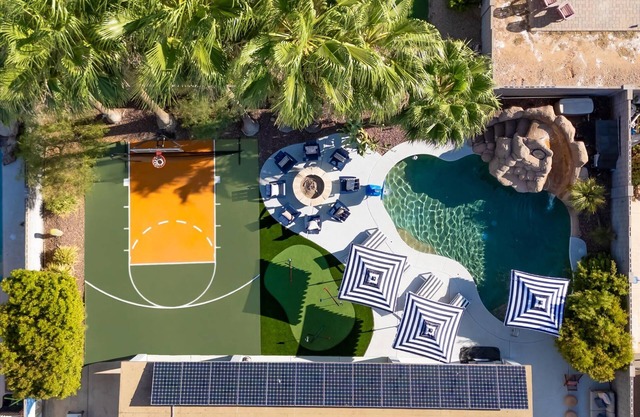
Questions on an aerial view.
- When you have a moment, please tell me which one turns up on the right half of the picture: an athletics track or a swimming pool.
swimming pool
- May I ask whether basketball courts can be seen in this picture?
Yes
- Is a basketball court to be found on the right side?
No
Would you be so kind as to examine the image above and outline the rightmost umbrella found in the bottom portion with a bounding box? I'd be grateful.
[504,270,570,336]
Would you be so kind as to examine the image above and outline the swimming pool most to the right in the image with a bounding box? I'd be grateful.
[371,144,582,344]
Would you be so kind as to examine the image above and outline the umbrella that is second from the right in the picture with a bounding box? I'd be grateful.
[392,291,463,361]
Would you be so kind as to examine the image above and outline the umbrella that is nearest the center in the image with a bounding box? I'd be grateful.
[338,243,408,313]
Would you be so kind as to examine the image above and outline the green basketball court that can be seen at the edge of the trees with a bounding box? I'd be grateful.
[83,138,261,366]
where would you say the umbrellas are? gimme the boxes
[392,291,463,361]
[504,270,570,336]
[338,243,408,313]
